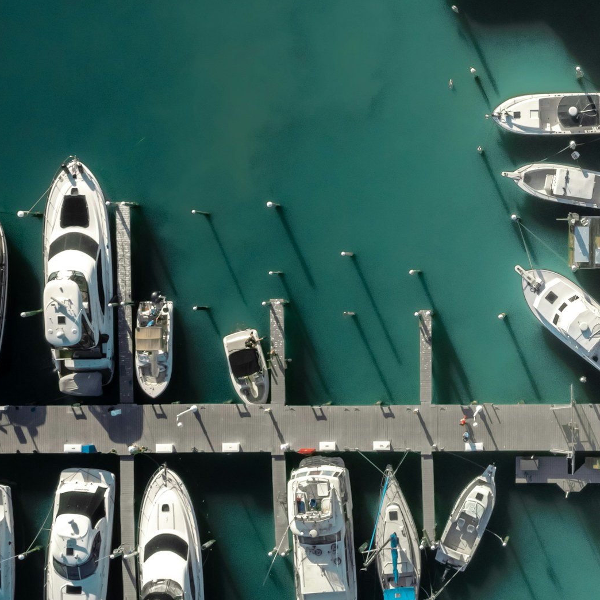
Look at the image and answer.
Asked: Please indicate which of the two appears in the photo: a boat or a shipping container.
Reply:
boat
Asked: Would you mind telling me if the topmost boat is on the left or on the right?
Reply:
right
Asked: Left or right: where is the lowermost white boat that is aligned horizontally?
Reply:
right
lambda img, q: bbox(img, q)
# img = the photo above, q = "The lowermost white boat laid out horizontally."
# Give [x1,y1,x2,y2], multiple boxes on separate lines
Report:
[502,164,600,213]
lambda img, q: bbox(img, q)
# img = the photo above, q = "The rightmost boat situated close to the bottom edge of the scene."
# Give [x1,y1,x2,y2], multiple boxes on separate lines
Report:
[435,462,494,577]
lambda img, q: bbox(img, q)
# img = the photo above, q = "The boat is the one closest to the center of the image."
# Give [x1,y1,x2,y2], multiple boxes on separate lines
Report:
[220,328,270,405]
